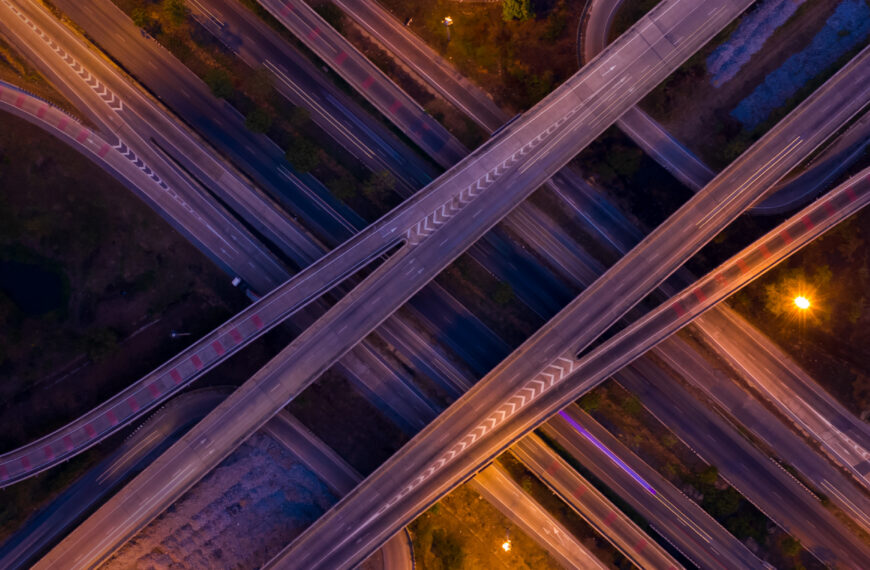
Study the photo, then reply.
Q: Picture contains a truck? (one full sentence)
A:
Yes, there's a truck down there.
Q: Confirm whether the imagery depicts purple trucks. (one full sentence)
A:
Yes, a purple truck can be made out from above.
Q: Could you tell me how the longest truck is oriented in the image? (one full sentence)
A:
From this overhead view, the longest truck appears to run on a diagonal.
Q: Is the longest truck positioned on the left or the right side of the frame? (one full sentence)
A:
The longest truck sits on the right side.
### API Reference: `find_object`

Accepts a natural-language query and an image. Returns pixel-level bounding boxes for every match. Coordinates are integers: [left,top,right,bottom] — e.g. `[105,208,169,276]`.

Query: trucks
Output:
[565,414,655,493]
[231,278,257,302]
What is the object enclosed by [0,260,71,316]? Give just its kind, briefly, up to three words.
pond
